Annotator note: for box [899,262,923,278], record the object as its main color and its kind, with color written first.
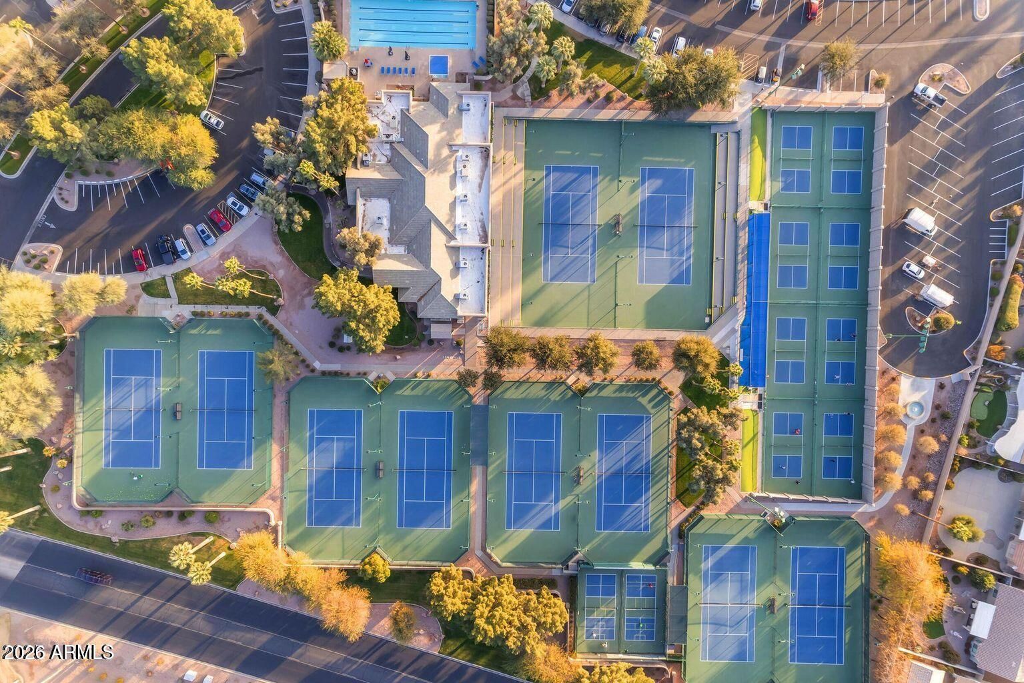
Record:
white car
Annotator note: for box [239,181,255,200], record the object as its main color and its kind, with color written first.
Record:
blue car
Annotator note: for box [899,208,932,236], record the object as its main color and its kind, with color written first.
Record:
white truck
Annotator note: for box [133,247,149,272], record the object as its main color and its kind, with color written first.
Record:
red car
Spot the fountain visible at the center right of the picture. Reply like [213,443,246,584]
[906,400,926,419]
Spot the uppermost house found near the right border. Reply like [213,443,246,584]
[980,372,1024,465]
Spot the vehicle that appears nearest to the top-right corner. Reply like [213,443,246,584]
[912,84,948,108]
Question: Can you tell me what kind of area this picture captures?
sports ground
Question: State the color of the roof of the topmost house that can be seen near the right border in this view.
white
